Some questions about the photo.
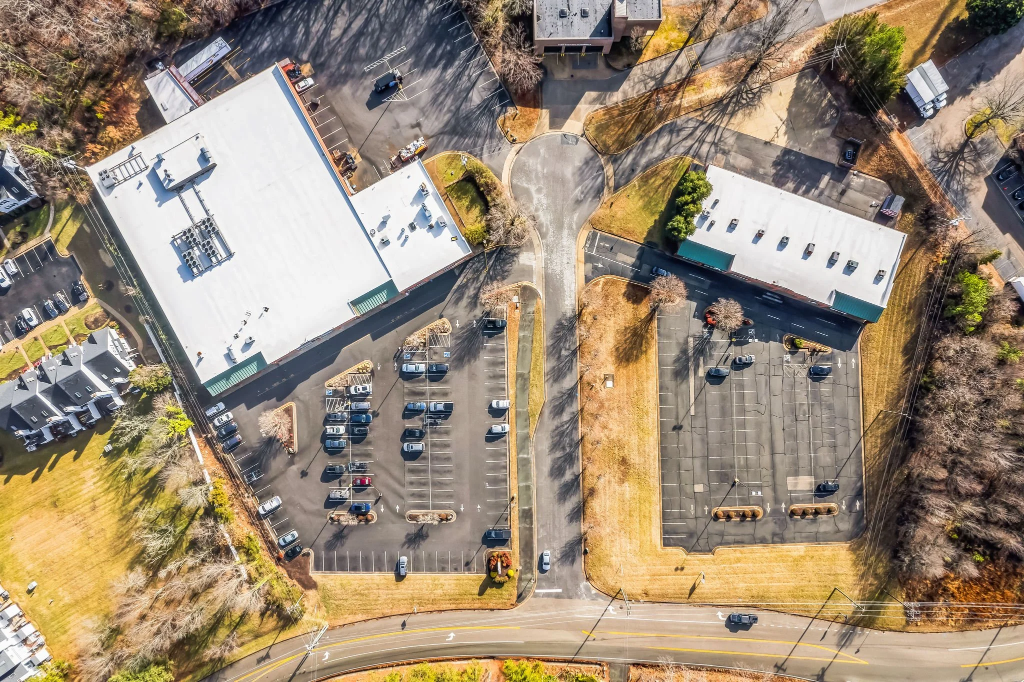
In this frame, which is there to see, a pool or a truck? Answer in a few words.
truck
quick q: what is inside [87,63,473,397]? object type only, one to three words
building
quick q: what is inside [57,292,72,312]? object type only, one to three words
car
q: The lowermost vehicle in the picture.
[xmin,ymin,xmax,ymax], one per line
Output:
[728,612,756,625]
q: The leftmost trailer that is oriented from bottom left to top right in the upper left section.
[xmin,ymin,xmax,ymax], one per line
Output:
[177,38,233,84]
